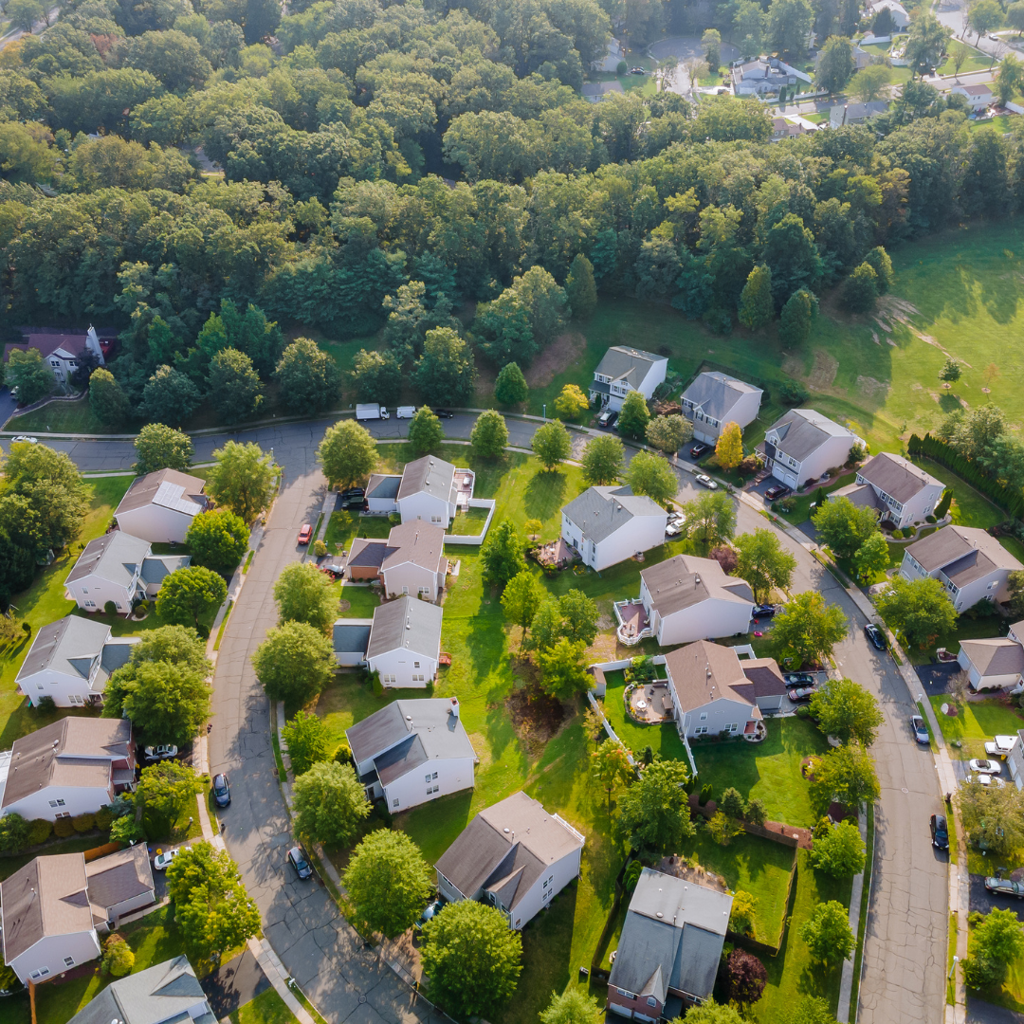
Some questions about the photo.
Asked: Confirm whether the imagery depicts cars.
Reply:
Yes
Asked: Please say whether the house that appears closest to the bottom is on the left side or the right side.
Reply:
left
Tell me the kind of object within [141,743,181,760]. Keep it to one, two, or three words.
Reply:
car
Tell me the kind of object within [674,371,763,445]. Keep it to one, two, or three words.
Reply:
house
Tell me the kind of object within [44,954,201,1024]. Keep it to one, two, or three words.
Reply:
house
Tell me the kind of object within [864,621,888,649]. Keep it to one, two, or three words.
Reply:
car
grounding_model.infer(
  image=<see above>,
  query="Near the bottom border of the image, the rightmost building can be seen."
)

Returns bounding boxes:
[607,867,734,1024]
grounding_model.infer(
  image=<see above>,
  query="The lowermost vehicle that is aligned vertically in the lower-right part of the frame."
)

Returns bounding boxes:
[929,810,952,850]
